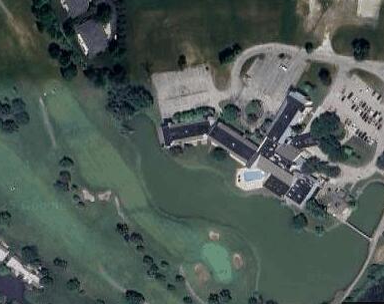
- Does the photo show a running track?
No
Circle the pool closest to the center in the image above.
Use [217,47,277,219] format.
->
[235,167,268,190]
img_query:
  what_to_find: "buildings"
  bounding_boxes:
[5,252,43,291]
[59,0,93,22]
[75,17,111,60]
[156,90,319,206]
